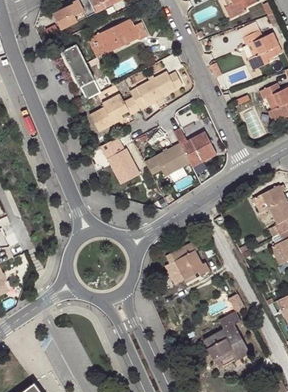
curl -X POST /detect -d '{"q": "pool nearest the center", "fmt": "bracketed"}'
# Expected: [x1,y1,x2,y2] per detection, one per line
[174,176,195,193]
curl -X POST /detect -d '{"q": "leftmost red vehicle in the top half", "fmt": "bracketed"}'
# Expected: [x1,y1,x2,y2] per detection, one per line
[22,106,38,138]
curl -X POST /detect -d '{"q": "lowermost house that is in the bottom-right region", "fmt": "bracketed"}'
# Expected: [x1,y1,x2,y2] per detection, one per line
[204,316,248,366]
